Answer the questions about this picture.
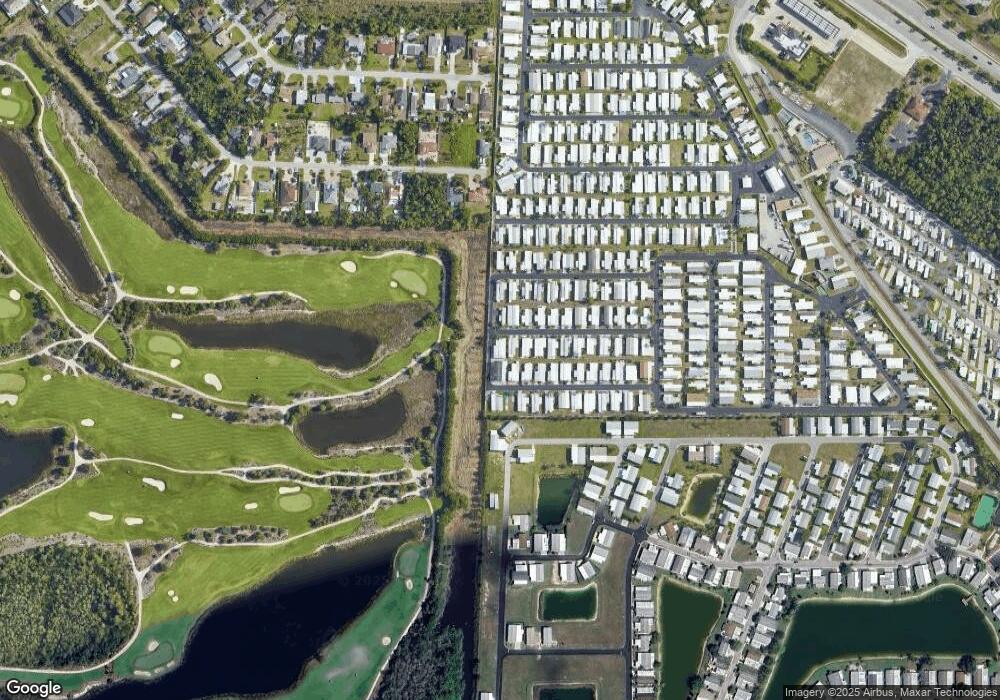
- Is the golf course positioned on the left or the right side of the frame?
left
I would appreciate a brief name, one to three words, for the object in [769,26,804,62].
house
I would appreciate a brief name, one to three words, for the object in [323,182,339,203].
house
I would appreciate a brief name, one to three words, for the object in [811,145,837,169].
building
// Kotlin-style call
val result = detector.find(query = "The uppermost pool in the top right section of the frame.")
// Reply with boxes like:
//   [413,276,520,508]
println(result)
[788,117,834,152]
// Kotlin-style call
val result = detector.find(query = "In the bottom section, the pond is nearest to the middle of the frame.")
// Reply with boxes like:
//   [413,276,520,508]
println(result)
[537,476,577,525]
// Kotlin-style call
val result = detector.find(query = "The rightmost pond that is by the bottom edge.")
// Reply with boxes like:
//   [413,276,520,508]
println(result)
[658,579,723,700]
